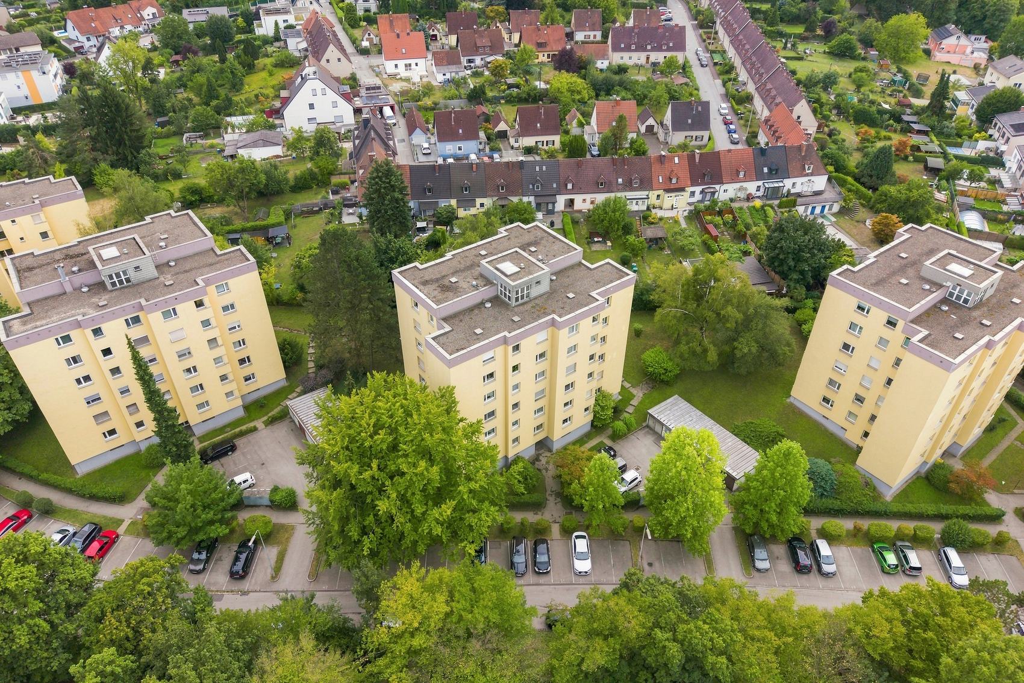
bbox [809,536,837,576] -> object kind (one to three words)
car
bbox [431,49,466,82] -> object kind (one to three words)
shed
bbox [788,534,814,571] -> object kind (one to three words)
car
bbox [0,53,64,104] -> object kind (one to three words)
house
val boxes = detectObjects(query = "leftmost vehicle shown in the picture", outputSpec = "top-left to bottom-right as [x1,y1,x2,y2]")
[0,509,32,543]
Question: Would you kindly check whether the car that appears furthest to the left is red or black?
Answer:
red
